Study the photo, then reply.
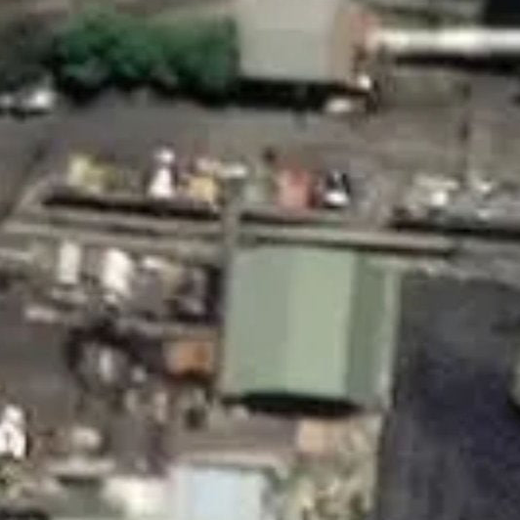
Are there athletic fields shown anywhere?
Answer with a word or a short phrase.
No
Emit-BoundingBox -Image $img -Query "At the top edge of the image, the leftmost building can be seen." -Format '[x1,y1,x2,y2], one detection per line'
[234,0,366,92]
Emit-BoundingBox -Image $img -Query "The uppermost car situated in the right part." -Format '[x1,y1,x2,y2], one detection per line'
[324,95,358,114]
